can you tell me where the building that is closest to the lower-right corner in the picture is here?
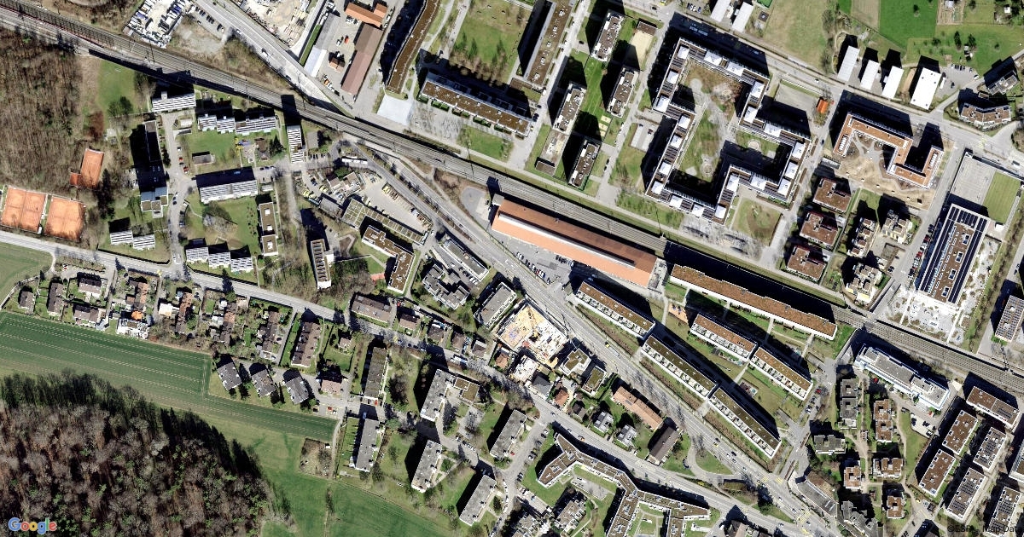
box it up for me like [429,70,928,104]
[988,487,1022,537]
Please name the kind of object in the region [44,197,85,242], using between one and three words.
tennis court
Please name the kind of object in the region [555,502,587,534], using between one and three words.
building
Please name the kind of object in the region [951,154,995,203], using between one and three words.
sports court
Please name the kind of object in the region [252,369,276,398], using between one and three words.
house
